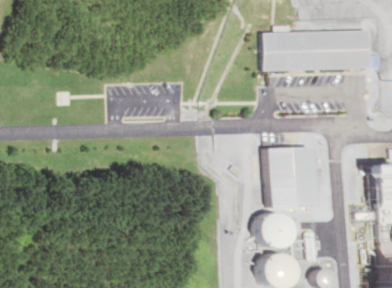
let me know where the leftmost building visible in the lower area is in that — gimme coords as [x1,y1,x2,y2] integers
[260,146,320,207]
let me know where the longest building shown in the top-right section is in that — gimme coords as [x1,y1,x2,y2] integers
[257,30,372,72]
